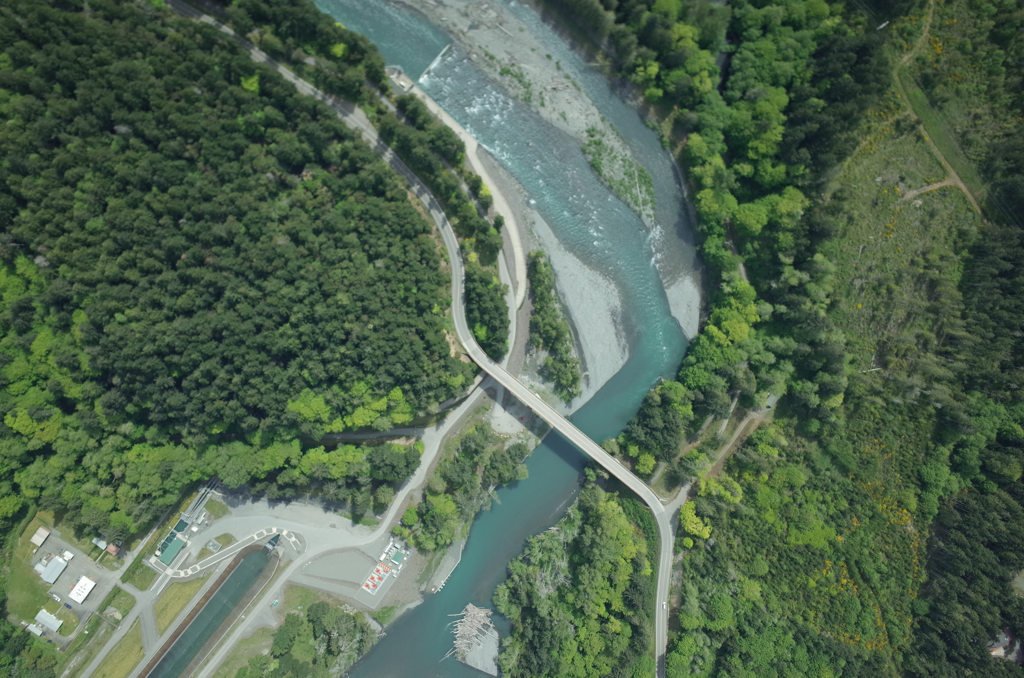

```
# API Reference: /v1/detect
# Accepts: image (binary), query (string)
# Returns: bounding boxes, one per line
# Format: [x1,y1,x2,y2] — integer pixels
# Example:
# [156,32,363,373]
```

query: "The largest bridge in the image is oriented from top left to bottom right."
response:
[459,333,668,518]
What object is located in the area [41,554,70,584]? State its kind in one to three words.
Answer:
building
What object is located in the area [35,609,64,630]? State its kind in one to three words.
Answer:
house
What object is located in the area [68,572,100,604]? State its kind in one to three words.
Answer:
building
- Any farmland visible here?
No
